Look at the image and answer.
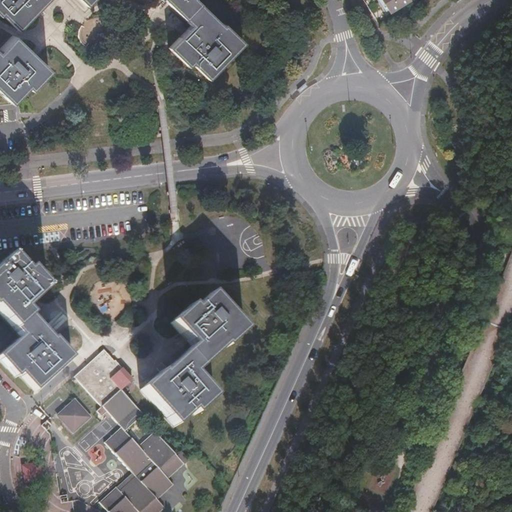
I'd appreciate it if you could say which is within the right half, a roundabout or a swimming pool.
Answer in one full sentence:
Looking within the right half, you will find a roundabout.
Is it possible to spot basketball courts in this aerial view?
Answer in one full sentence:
Yes, a basketball court appears in the view.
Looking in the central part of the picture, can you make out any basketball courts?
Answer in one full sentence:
Yes, a basketball court appears in the central part of the picture.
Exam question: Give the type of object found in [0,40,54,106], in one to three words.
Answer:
building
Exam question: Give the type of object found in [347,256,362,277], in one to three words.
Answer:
vehicle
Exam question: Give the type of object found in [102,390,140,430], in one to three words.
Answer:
building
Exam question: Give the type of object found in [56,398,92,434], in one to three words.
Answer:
house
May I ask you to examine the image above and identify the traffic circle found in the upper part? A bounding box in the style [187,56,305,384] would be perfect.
[280,72,422,216]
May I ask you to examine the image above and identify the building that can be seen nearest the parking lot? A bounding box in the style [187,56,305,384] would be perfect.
[0,248,78,388]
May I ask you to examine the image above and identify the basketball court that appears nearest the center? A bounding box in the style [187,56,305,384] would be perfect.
[188,216,269,279]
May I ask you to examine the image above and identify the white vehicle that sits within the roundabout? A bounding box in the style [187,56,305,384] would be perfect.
[390,169,404,189]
